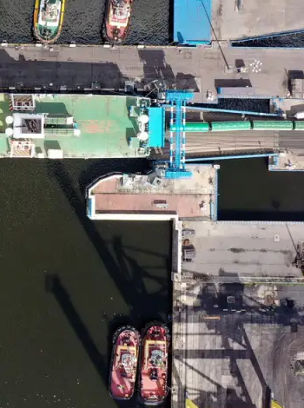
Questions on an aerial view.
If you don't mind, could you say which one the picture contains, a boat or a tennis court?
boat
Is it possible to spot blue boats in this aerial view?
No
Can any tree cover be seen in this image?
No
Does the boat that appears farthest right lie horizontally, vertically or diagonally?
vertically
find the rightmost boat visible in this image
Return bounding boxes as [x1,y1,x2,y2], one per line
[138,317,169,406]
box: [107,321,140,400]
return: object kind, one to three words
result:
boat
